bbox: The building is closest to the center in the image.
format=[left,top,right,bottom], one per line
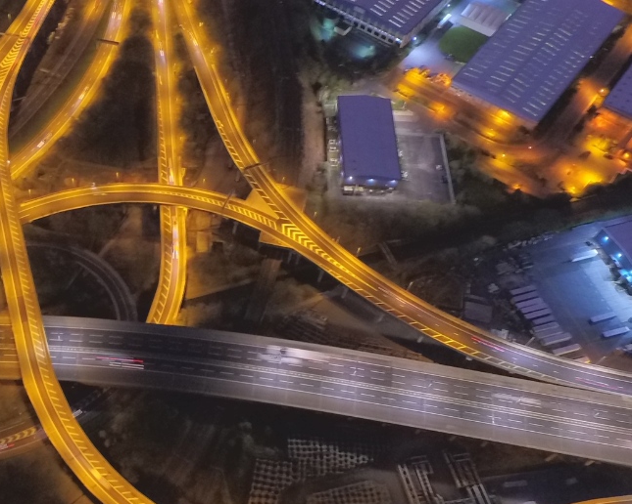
[335,94,398,188]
